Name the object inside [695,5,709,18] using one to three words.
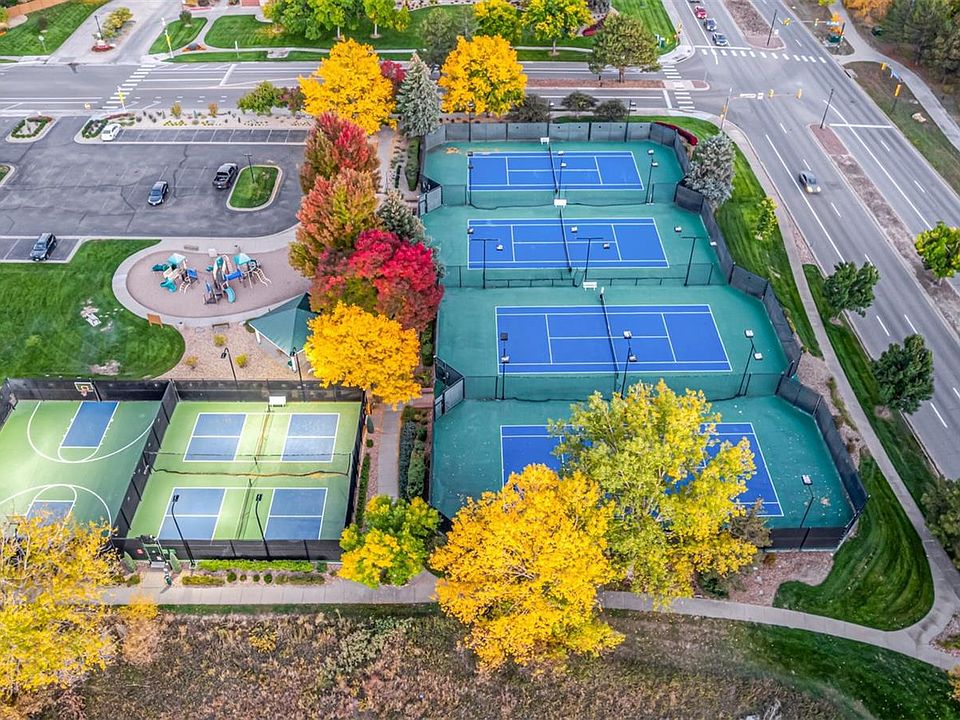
vehicle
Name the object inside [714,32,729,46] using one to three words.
car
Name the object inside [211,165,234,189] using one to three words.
truck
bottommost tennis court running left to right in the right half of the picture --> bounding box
[432,395,857,529]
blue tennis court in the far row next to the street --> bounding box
[427,141,685,205]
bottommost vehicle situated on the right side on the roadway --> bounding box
[799,172,821,194]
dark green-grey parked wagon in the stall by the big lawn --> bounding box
[27,232,56,262]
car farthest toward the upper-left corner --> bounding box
[98,125,120,141]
